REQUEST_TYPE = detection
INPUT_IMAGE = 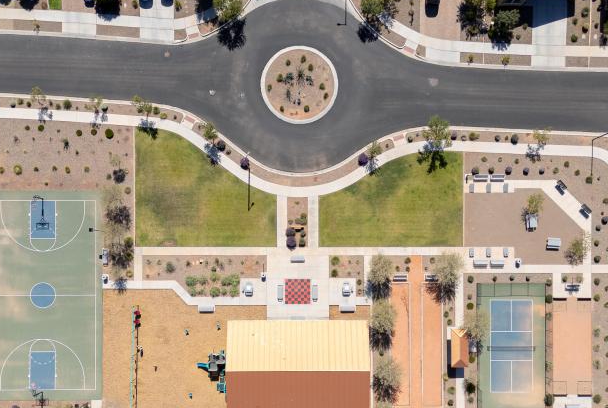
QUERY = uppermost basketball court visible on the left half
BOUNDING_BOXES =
[0,190,102,401]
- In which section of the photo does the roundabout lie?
top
